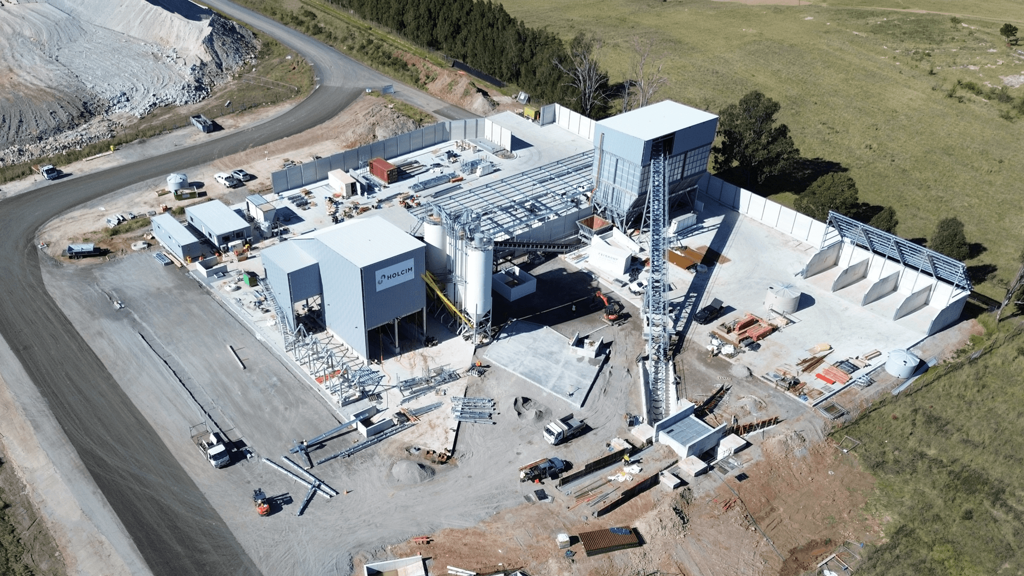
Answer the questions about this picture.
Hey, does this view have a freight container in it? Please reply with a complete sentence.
Yes, there's a freight container here.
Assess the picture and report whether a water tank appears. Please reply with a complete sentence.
Yes, you can see a water tank in this photo.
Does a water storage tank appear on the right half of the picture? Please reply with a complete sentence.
Yes, a water storage tank can be seen on the right half of the picture.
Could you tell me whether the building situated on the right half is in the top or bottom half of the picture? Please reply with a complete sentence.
You can find the building situated on the right half in the top half.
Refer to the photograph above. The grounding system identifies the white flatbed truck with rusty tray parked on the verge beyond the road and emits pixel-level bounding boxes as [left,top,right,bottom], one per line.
[33,160,56,179]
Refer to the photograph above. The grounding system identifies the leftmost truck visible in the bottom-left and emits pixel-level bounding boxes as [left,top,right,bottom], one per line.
[193,418,228,464]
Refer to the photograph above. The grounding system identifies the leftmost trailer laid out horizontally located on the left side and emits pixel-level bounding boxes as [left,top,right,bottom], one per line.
[57,239,116,257]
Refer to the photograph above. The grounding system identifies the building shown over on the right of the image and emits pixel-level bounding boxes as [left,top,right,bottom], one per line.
[592,98,718,223]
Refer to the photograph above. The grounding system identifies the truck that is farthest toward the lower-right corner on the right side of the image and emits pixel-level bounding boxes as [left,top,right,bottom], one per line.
[691,292,722,323]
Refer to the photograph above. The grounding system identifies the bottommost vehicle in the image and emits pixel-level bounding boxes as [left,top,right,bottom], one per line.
[252,478,269,516]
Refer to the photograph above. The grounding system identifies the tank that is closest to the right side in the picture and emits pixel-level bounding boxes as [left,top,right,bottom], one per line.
[884,346,923,381]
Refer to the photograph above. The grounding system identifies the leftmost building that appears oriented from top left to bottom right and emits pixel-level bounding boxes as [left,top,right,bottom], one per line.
[150,213,203,261]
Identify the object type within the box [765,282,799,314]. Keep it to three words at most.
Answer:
water tank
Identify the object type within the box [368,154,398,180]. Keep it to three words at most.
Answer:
shipping container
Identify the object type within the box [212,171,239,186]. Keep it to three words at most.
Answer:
vehicle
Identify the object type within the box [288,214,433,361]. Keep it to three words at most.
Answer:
building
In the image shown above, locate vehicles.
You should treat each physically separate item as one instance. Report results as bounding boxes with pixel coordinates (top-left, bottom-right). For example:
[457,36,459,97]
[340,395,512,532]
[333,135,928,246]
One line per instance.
[33,160,56,179]
[522,457,570,486]
[602,290,623,326]
[212,171,239,186]
[542,413,591,444]
[423,336,439,348]
[625,275,655,293]
[193,418,228,464]
[252,478,269,516]
[691,292,722,323]
[229,167,252,180]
